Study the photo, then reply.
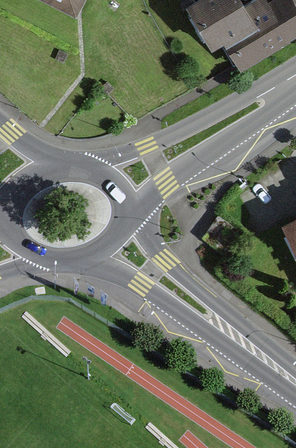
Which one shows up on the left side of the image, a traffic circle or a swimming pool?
traffic circle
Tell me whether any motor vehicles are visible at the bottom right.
No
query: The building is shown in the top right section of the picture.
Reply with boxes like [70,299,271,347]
[183,0,296,72]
